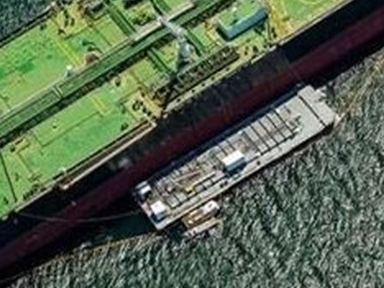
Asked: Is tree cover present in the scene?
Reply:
No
